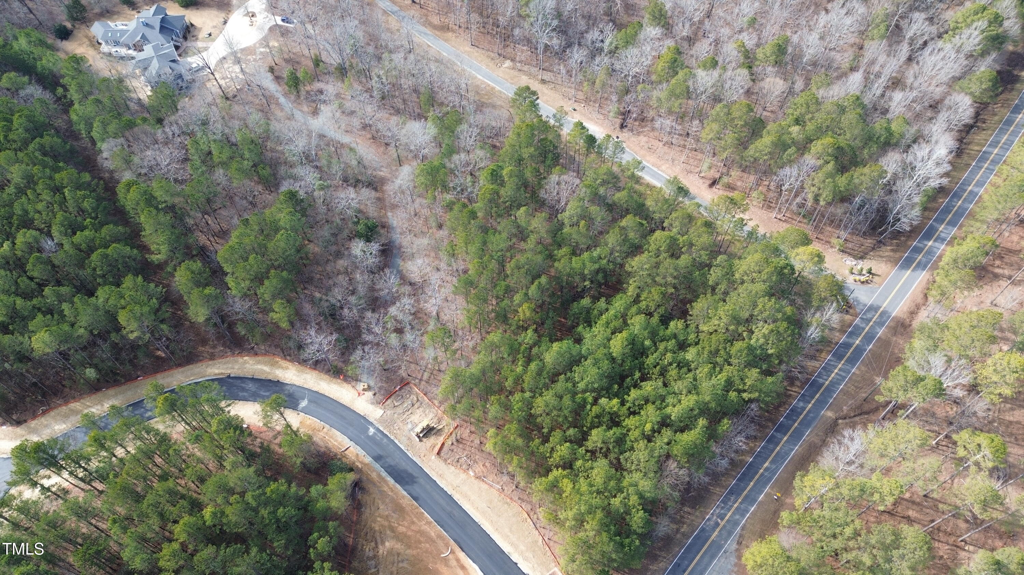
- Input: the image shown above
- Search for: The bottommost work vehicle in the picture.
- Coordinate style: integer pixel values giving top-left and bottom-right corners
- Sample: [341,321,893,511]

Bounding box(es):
[412,420,436,445]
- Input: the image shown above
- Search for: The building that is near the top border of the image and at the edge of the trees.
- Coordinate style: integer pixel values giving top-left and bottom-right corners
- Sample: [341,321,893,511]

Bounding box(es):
[90,4,189,84]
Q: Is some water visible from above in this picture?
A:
No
